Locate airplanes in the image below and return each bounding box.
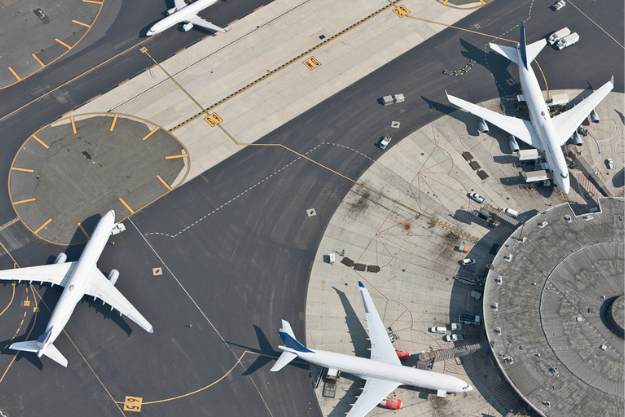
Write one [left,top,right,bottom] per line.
[446,23,616,197]
[0,212,154,366]
[146,0,231,37]
[272,280,470,417]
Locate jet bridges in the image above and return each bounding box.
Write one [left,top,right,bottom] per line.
[562,145,617,197]
[482,201,525,233]
[414,341,488,372]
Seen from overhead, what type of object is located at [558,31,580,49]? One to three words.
vehicle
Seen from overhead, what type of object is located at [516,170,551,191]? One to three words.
truck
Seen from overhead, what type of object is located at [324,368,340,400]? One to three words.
work vehicle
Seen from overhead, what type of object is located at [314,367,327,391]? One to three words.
vehicle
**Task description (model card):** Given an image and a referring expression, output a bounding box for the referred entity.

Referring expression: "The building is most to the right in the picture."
[483,197,625,417]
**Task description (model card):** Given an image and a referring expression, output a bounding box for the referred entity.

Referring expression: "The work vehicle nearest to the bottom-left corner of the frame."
[112,222,128,236]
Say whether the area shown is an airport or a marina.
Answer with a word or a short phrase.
airport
